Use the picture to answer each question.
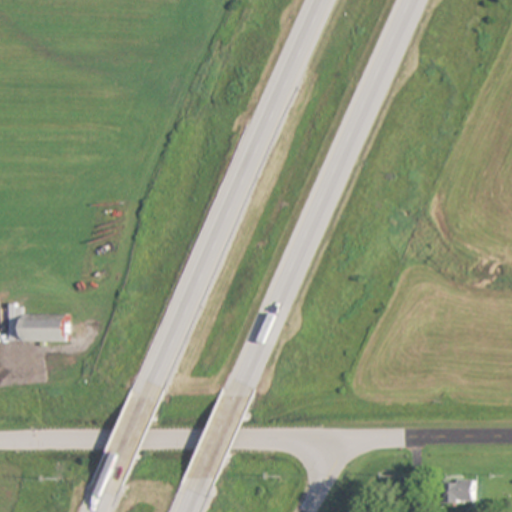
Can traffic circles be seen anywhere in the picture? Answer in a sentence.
No, the scene contains no traffic circle.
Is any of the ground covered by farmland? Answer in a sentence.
Yes, some farmland is visible.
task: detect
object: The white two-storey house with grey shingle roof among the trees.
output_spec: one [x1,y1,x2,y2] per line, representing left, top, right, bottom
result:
[445,472,478,508]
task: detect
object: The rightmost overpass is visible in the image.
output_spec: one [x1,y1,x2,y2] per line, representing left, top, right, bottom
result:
[178,384,256,494]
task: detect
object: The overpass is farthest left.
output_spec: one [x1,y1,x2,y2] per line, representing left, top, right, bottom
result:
[88,382,166,491]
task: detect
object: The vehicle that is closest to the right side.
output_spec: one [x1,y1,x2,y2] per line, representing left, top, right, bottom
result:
[257,301,284,344]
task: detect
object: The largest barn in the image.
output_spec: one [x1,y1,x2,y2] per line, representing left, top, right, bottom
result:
[16,314,72,342]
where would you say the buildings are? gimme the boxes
[445,472,478,508]
[16,314,72,342]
